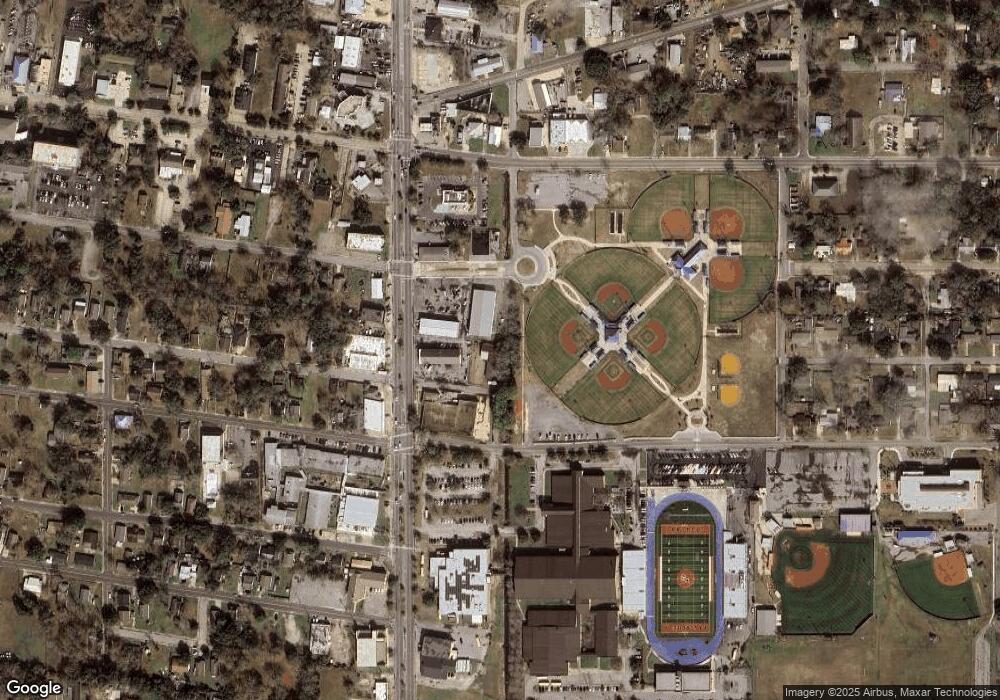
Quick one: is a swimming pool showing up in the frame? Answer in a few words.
No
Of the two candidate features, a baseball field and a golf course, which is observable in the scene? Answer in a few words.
baseball field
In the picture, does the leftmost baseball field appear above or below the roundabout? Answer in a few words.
below it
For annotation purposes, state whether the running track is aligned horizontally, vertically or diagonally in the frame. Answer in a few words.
vertically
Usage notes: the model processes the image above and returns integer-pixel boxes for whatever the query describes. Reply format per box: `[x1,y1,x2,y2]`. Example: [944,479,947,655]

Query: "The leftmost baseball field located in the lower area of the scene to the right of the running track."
[772,527,874,634]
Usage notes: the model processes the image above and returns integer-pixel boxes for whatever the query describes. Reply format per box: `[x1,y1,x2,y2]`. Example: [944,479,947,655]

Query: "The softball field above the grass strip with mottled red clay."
[708,174,777,242]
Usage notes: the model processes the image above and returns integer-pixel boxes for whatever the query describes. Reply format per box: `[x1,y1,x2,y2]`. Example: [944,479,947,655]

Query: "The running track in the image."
[646,493,724,664]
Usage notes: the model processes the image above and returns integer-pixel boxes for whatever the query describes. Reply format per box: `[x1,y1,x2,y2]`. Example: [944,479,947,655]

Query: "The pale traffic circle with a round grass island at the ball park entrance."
[506,246,548,289]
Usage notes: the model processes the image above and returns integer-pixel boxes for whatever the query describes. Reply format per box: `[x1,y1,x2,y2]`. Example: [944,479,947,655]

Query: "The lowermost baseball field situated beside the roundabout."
[525,283,597,390]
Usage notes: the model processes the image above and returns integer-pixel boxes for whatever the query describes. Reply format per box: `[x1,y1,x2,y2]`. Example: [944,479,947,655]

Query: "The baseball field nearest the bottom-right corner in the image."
[894,550,981,619]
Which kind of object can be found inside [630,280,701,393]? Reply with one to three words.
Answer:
baseball field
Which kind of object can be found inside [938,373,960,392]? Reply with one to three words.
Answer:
house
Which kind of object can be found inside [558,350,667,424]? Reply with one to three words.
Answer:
baseball field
